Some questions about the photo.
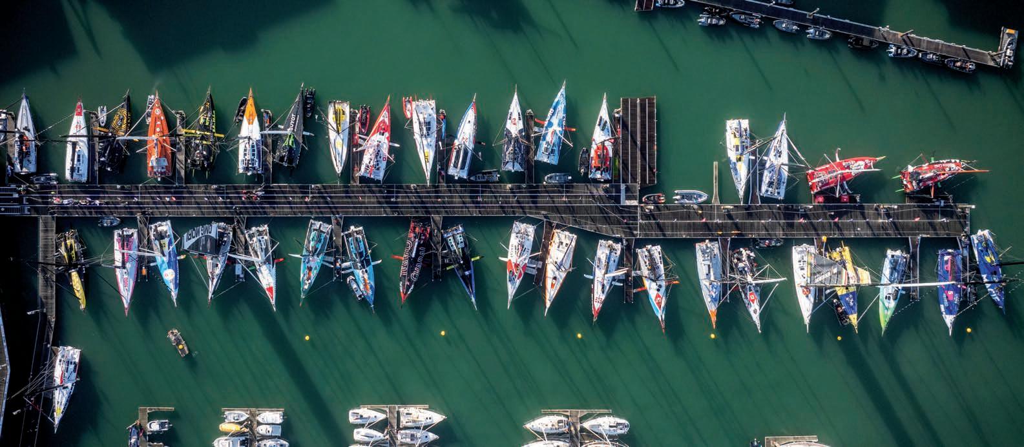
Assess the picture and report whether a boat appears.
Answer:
Yes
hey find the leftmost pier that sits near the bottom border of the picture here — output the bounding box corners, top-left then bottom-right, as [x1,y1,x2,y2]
[137,408,174,447]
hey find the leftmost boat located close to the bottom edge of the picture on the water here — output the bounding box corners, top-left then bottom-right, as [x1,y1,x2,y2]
[1,346,81,435]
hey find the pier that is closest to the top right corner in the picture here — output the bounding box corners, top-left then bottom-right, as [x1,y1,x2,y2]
[1000,27,1018,67]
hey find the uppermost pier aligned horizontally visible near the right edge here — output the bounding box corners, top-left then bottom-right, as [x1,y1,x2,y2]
[696,0,1000,66]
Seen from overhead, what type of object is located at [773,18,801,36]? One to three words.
boat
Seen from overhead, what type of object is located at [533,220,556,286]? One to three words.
pier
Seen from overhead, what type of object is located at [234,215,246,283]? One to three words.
pier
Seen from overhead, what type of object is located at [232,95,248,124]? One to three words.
boat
